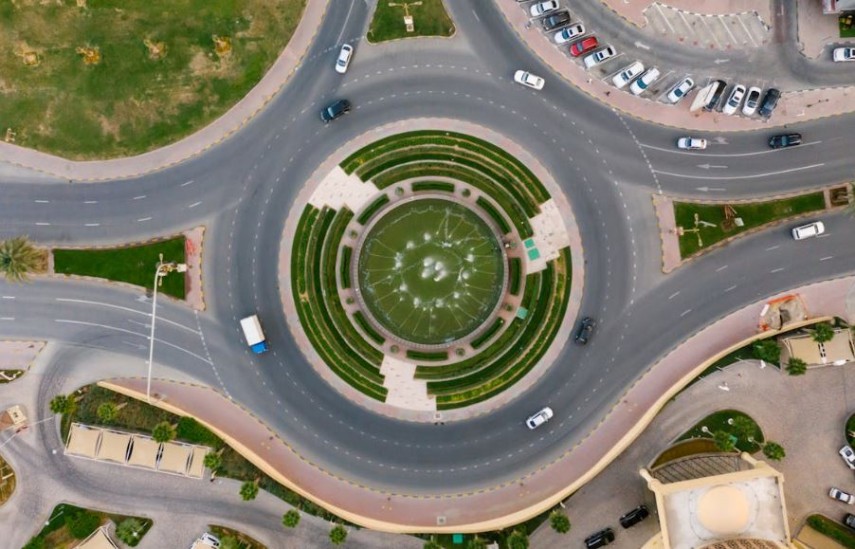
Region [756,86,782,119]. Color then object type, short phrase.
black car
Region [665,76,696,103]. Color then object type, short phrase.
white car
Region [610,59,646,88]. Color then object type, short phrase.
white car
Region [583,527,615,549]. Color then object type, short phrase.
black car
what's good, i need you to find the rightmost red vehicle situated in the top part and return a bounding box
[568,35,600,58]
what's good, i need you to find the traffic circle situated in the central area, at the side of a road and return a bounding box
[205,44,657,496]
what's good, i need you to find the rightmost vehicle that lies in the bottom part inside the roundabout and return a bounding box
[574,315,596,346]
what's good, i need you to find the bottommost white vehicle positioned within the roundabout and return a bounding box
[524,406,554,431]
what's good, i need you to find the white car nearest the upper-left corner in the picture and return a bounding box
[335,43,354,76]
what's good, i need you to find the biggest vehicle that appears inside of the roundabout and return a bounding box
[238,314,270,355]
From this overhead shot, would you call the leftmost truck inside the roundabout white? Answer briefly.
Yes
